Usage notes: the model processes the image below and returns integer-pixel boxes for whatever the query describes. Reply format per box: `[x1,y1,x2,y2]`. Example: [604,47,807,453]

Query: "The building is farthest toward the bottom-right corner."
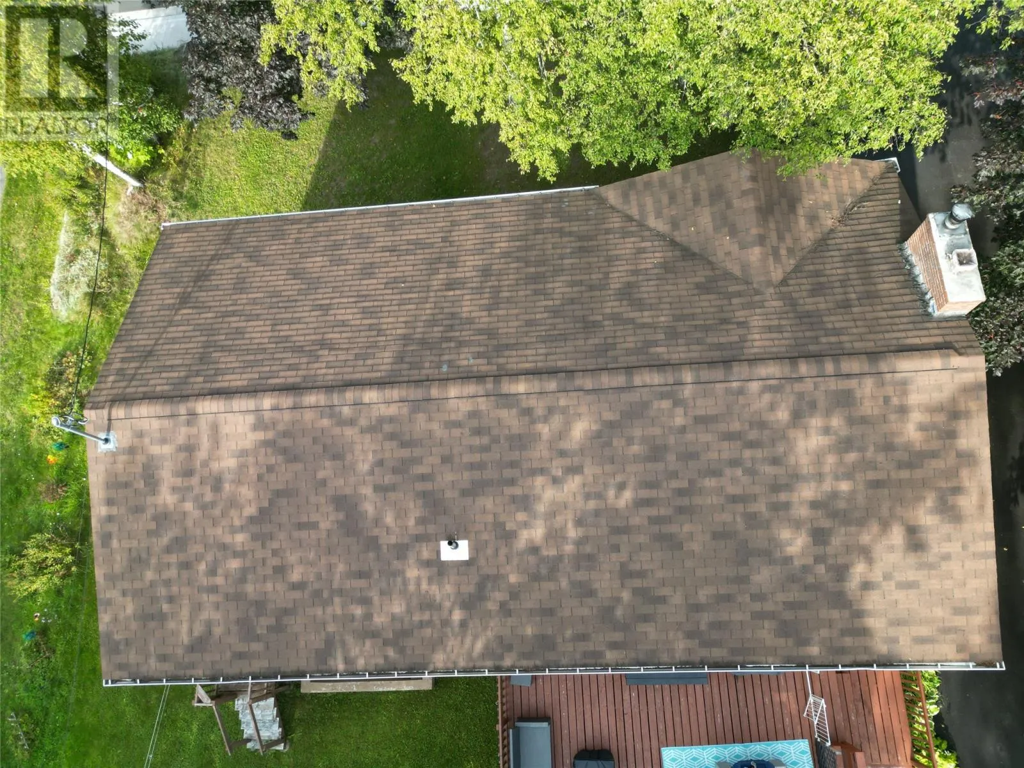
[56,140,1005,687]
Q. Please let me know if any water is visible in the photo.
No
